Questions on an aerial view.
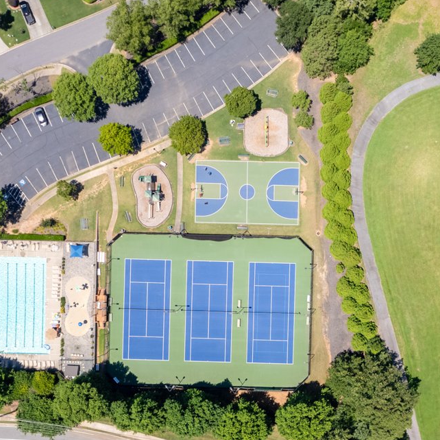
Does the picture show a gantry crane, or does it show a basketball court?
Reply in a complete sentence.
There is a basketball court in the scene.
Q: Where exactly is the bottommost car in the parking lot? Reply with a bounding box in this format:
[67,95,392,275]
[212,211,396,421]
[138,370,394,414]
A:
[35,106,49,127]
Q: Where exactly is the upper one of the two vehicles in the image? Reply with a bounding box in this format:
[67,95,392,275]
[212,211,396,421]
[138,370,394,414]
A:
[20,1,37,26]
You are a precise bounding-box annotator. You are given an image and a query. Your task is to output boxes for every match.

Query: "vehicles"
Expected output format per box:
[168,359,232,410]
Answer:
[35,106,49,127]
[20,1,37,26]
